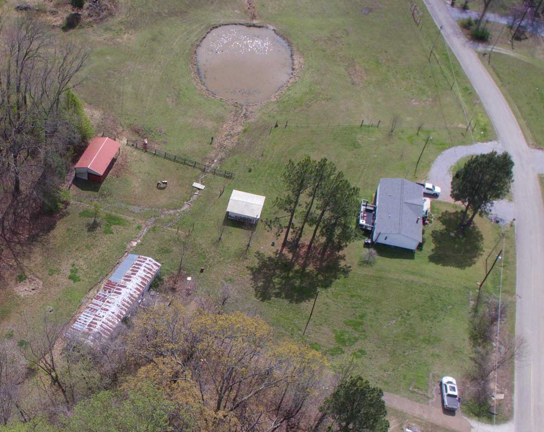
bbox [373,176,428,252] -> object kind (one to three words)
house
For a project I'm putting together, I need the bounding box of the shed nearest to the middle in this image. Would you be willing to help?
[226,189,266,227]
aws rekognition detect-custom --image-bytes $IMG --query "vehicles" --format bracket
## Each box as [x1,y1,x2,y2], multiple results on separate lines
[423,183,444,197]
[438,376,460,409]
